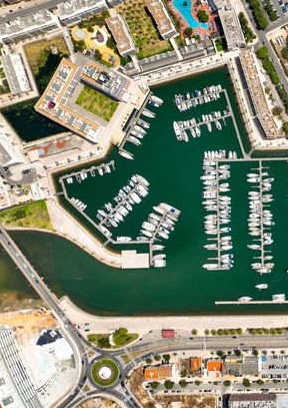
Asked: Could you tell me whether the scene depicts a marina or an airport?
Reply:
marina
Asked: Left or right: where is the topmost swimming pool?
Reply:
right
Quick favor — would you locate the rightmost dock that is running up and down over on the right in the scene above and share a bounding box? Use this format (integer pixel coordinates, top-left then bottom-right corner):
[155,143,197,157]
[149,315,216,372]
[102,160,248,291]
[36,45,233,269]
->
[250,160,273,268]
